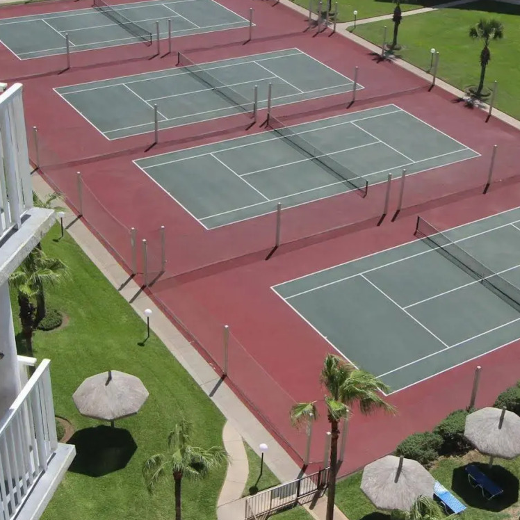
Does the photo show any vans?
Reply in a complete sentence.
No, there's no van here.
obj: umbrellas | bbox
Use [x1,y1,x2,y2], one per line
[357,453,441,519]
[459,405,520,466]
[69,371,147,432]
